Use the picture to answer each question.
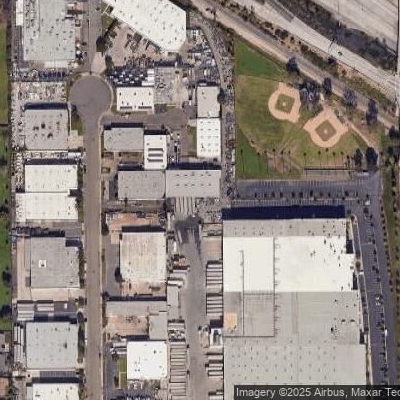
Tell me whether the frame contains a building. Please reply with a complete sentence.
Yes, the picture does show a building.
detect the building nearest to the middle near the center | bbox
[166,170,221,197]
